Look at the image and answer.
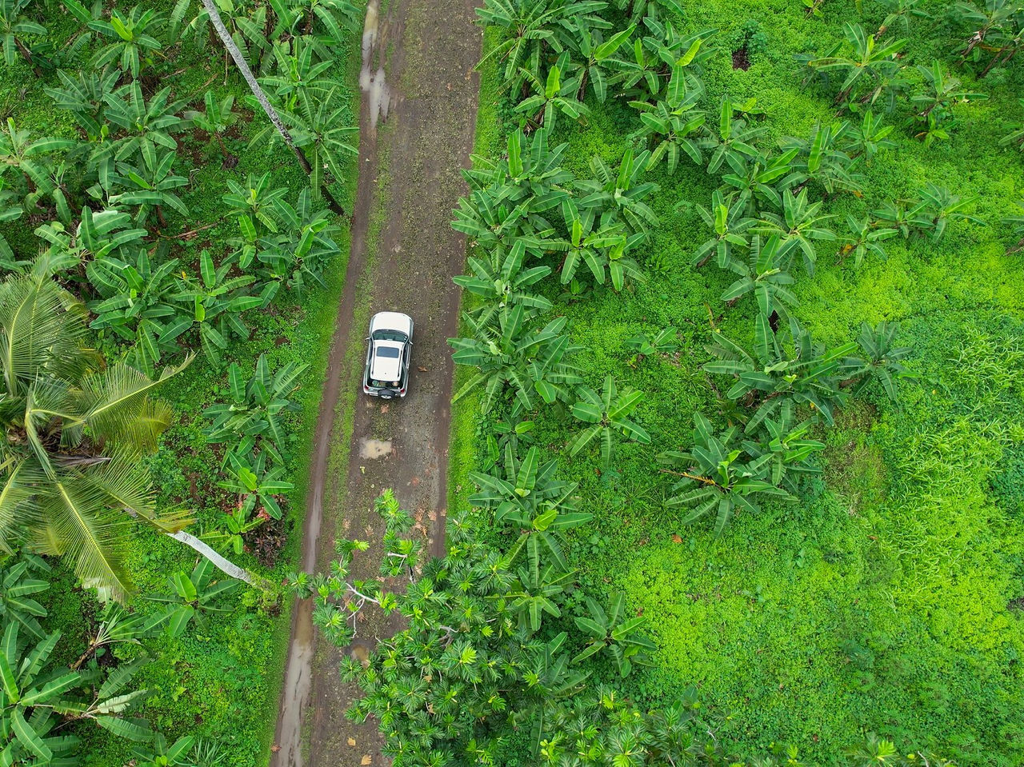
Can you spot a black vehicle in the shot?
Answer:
No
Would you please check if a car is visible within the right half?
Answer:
No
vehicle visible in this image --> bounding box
[360,311,416,402]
